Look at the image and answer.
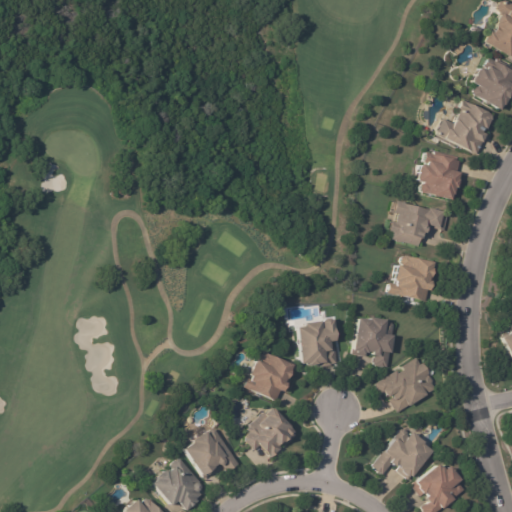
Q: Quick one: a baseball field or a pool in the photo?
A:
pool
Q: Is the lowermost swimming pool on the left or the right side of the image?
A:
left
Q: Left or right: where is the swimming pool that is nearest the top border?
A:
right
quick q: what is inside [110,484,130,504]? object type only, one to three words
swimming pool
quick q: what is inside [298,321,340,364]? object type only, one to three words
house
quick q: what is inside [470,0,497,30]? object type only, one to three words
swimming pool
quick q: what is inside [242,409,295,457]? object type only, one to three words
house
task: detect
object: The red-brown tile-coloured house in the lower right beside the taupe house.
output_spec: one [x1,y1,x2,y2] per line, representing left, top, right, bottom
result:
[410,462,464,512]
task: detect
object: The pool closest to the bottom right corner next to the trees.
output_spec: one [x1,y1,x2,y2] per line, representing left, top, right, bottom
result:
[423,426,442,444]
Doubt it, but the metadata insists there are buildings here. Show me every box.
[434,99,494,154]
[499,328,512,359]
[374,357,436,413]
[410,462,464,512]
[387,202,445,244]
[298,321,340,364]
[153,458,205,510]
[242,409,295,457]
[418,150,465,199]
[370,428,430,476]
[121,498,162,512]
[384,254,437,300]
[472,56,512,108]
[350,320,394,367]
[184,428,240,476]
[242,354,295,400]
